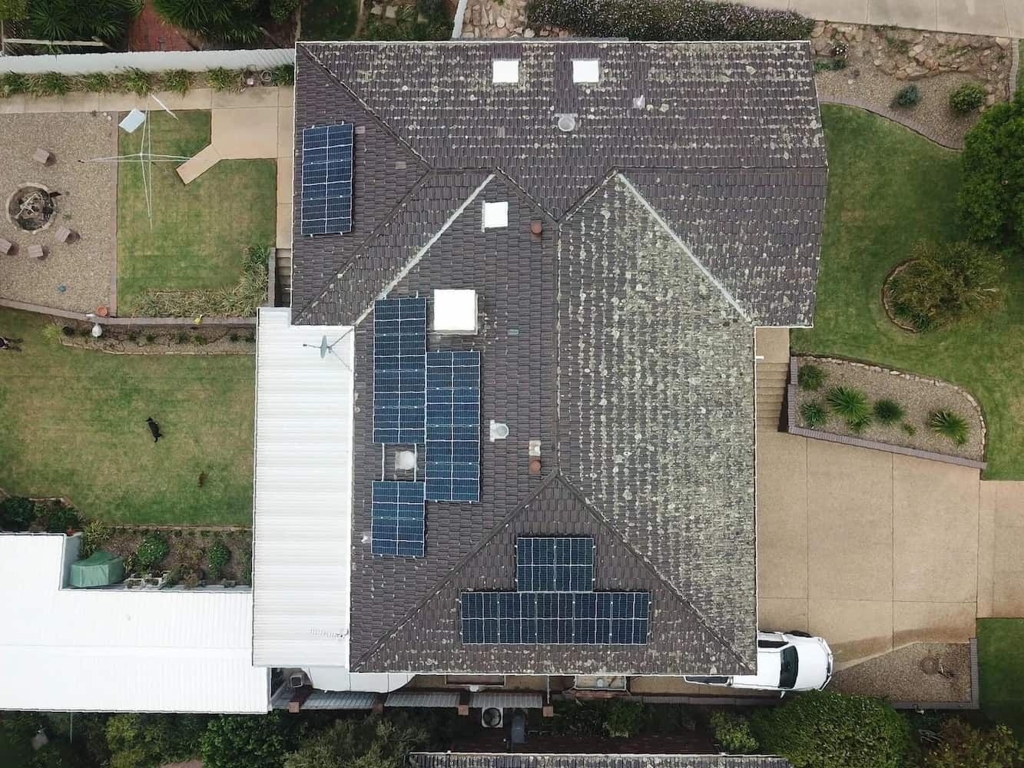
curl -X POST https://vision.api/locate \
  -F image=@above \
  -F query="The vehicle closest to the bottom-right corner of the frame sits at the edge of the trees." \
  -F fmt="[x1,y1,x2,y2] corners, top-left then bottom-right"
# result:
[673,627,832,698]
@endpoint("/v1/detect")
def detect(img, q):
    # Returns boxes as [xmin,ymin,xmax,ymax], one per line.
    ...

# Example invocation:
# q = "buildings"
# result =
[409,739,792,768]
[289,36,828,678]
[0,532,279,715]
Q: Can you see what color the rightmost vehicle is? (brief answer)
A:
white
